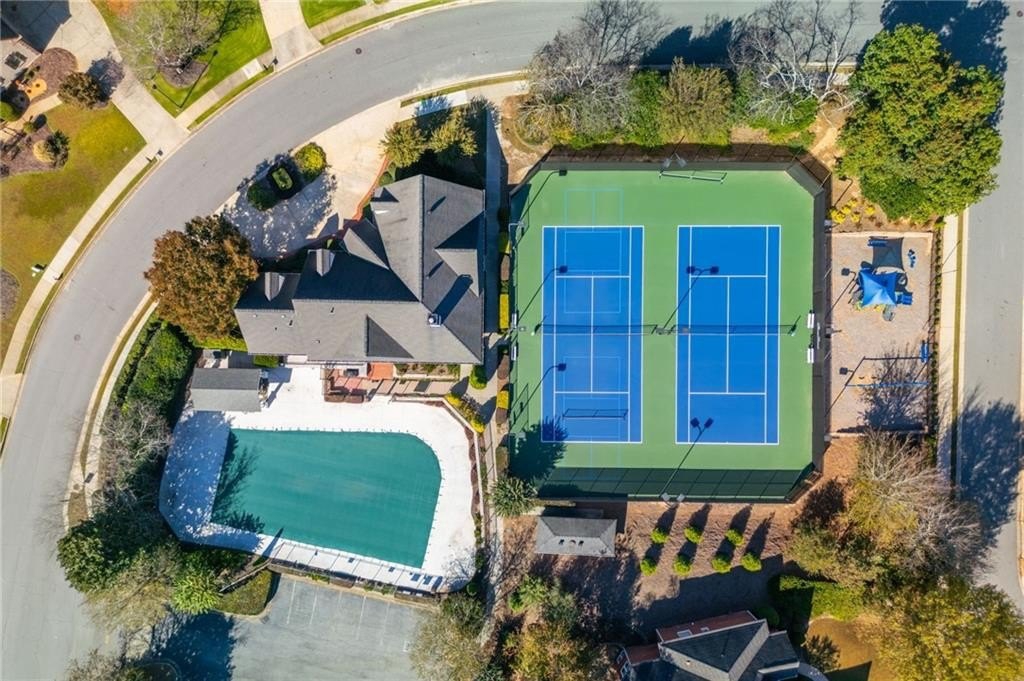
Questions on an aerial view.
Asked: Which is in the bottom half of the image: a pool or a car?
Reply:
pool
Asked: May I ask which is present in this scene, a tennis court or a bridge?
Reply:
tennis court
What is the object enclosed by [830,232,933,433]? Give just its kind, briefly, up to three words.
playground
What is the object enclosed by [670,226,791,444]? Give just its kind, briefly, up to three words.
tennis court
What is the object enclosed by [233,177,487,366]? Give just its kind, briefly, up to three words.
building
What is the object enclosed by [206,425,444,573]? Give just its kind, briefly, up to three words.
swimming pool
